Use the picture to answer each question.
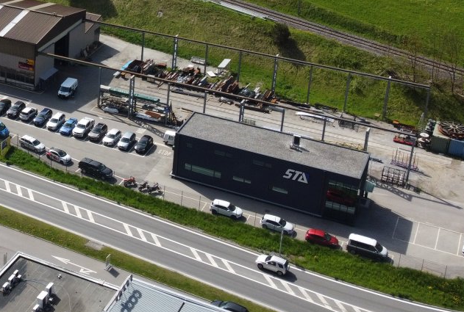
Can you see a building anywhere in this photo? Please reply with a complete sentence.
Yes, looking at the shot, I can spot a building.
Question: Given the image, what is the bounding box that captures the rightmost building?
[172,110,381,225]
